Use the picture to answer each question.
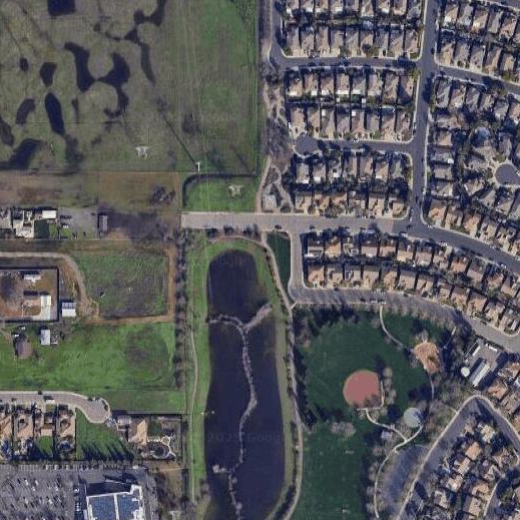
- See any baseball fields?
Yes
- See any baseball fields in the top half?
No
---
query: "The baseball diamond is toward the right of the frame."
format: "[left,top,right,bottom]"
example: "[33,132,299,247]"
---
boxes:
[342,368,383,409]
